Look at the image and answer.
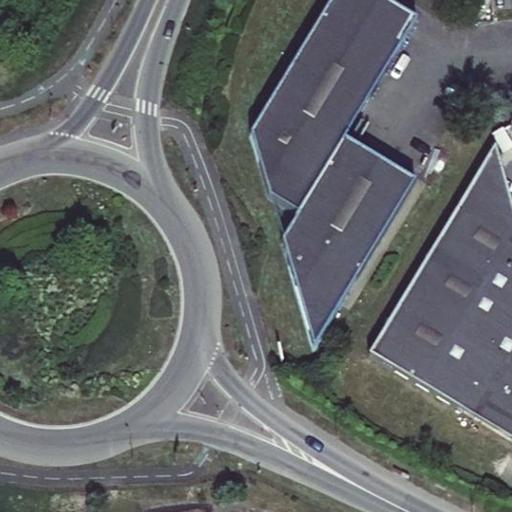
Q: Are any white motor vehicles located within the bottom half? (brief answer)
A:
No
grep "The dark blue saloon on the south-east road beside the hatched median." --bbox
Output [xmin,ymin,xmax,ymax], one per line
[305,435,325,452]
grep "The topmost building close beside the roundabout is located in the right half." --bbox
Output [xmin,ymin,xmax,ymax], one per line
[254,0,416,216]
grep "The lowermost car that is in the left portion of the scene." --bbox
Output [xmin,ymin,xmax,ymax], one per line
[122,171,142,187]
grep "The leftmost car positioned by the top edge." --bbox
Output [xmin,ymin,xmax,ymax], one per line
[163,20,176,40]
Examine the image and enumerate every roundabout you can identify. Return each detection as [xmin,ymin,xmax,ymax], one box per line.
[0,134,222,468]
